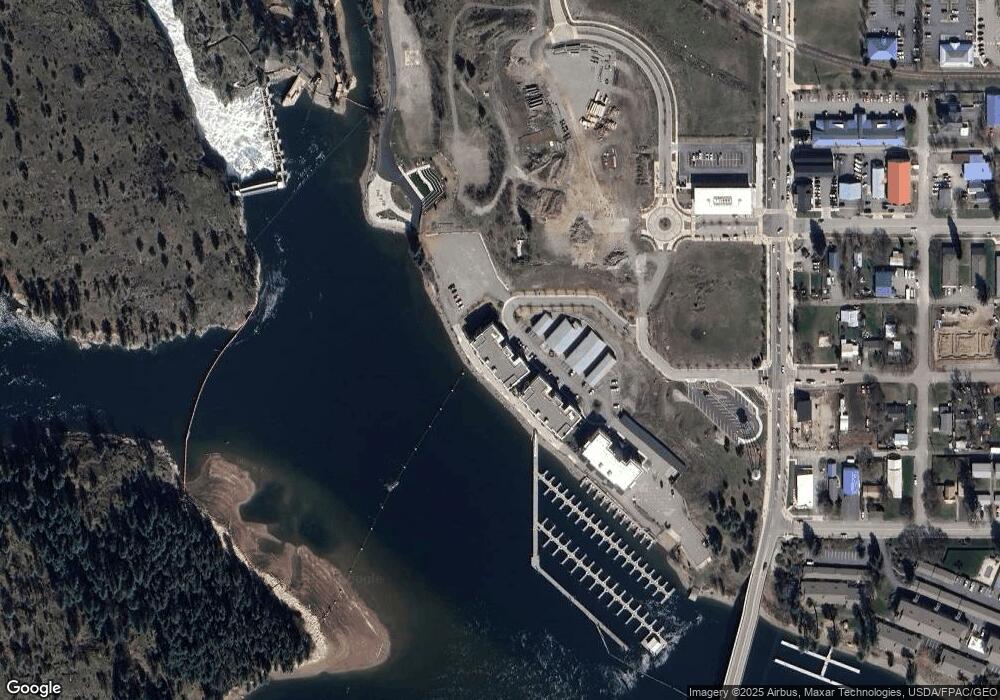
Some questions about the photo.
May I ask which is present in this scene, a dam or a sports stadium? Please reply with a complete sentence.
This aerial view contains a dam.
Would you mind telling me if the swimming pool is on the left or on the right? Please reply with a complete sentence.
The swimming pool appears in the right half of the scene.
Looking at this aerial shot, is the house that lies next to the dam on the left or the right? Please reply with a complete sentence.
You can find the house that lies next to the dam on the left side of the picture.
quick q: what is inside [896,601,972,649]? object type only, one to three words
house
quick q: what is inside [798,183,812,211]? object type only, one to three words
house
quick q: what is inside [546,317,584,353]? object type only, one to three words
shed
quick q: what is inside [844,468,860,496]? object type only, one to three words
building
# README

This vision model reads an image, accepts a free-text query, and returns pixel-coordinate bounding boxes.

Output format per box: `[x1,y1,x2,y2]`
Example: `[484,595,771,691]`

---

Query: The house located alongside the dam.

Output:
[282,75,308,107]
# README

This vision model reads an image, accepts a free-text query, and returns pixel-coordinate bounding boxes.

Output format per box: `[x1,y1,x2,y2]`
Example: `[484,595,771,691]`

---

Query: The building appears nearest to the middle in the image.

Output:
[471,326,529,390]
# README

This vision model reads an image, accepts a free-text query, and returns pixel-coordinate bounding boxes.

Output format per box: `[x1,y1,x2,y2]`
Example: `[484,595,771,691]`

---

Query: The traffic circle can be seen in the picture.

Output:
[641,198,691,253]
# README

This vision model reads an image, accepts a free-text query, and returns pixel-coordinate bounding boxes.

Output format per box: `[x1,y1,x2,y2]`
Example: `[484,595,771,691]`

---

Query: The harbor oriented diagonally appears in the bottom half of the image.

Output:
[531,429,676,649]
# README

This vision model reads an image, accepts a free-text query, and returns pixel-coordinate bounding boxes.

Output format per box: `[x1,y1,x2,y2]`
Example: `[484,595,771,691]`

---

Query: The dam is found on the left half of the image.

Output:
[232,85,291,198]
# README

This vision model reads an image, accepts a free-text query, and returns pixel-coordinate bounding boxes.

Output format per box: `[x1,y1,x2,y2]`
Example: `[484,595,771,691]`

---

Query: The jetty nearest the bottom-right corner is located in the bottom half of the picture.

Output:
[774,640,866,697]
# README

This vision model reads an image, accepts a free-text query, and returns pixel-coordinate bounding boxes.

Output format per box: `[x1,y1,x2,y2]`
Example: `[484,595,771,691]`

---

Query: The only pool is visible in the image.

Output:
[977,556,1000,587]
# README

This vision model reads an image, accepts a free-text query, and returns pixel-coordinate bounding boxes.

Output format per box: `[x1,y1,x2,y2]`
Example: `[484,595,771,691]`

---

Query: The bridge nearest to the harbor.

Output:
[722,539,776,700]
